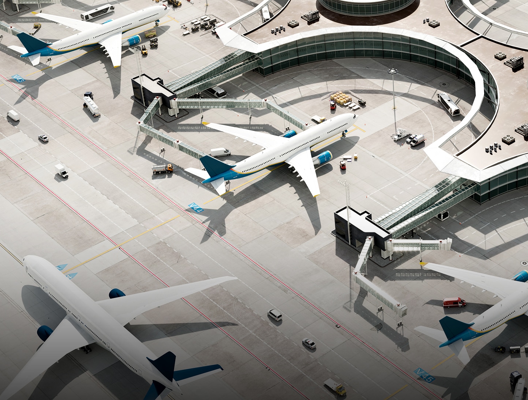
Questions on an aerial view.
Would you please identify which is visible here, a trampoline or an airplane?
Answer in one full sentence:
Visible in the photo is an airplane.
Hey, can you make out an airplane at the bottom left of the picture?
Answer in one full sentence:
Yes, an airplane can be seen at the bottom left of the picture.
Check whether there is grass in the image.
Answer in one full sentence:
No, the picture contains no grass.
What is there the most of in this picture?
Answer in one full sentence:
What you mostly see from above here is paved ground.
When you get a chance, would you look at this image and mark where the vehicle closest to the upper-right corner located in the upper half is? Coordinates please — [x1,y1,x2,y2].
[436,95,460,119]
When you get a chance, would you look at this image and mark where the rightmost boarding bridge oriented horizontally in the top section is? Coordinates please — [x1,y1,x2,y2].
[169,96,317,132]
